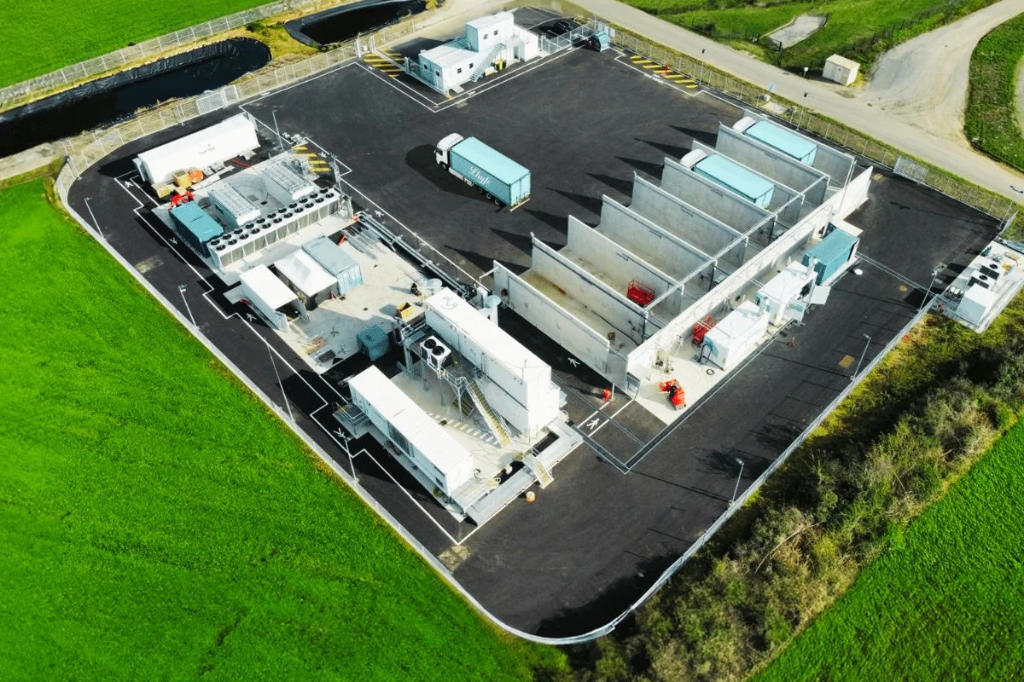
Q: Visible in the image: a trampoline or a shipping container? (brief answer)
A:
shipping container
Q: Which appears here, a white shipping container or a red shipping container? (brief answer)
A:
white shipping container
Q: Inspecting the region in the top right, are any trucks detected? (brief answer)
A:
Yes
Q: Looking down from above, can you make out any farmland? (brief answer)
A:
Yes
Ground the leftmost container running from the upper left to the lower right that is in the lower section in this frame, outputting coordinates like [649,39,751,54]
[347,364,473,494]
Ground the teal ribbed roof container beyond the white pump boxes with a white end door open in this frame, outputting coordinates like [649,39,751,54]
[805,226,870,284]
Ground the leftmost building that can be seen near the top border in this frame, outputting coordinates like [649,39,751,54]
[419,5,539,90]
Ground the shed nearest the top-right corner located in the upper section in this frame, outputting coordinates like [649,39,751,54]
[822,54,862,85]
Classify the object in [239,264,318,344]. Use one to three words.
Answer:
shed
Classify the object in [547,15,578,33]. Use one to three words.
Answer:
car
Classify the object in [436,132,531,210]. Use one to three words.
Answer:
truck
